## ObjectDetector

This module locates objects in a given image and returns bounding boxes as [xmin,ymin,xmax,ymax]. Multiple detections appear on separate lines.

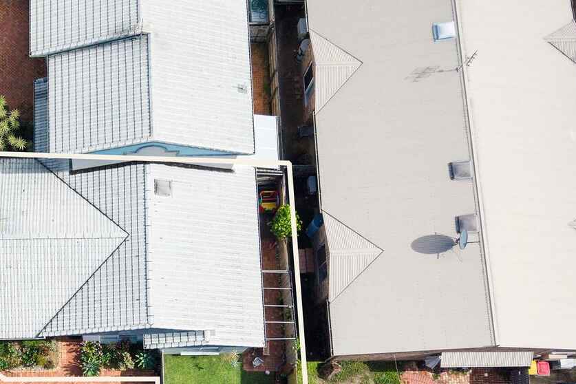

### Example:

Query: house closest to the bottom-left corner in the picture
[0,157,268,357]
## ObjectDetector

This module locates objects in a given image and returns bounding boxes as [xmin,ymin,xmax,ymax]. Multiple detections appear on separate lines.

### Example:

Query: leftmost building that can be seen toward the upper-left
[26,0,257,172]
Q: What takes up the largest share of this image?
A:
buildings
